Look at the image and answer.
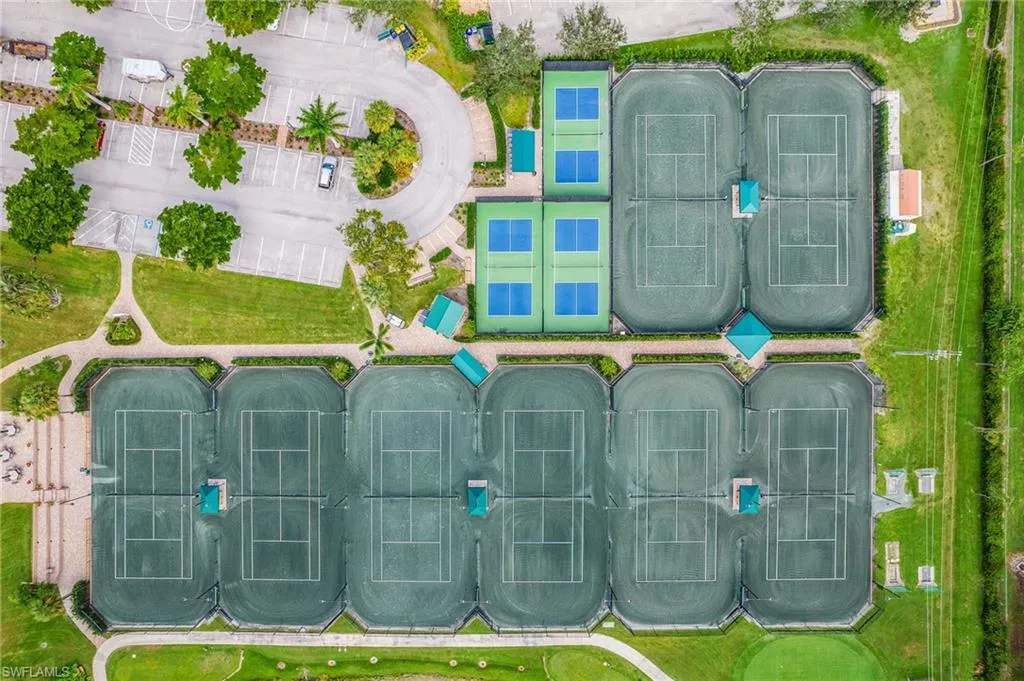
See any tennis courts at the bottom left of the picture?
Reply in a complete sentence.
Yes, at the bottom left of the picture there is a tennis court.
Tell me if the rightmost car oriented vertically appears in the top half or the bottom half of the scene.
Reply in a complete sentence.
The rightmost car oriented vertically is in the top half of the image.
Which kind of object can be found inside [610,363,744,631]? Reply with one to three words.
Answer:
tennis court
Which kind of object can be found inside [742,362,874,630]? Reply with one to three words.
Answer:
tennis court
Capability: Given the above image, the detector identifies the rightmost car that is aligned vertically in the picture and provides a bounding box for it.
[316,155,336,191]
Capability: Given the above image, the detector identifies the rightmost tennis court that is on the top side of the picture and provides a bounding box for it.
[743,68,875,333]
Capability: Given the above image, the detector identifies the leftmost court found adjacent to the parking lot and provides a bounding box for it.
[90,366,217,629]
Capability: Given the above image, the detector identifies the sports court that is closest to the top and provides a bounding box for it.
[543,69,611,196]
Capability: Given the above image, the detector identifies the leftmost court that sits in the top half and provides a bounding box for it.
[476,201,543,333]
